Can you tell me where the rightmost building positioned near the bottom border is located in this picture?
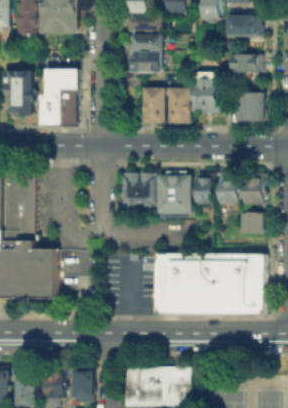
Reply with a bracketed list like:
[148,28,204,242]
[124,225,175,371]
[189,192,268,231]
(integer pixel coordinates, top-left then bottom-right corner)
[126,368,192,408]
